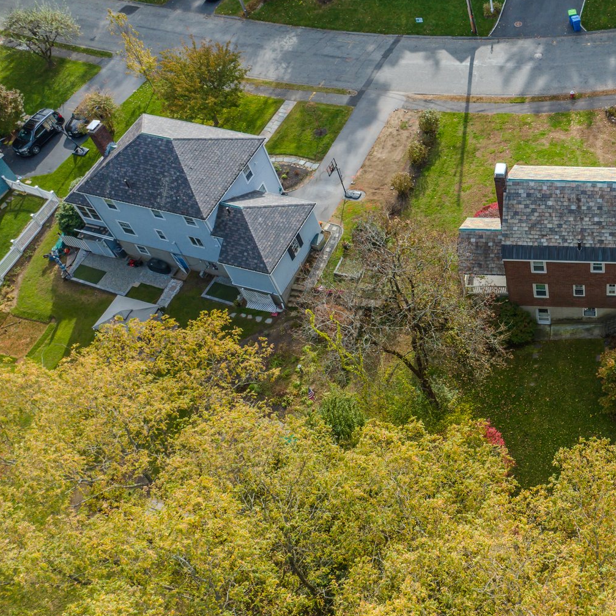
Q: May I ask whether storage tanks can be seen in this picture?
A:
No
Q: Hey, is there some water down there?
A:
No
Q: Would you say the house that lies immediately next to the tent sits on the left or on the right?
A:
left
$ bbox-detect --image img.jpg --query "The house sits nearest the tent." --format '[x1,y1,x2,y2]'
[59,112,318,311]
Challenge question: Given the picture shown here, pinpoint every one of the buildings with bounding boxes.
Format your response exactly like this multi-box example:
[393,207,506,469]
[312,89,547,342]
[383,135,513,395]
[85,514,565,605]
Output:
[0,161,15,202]
[59,112,318,311]
[458,157,616,342]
